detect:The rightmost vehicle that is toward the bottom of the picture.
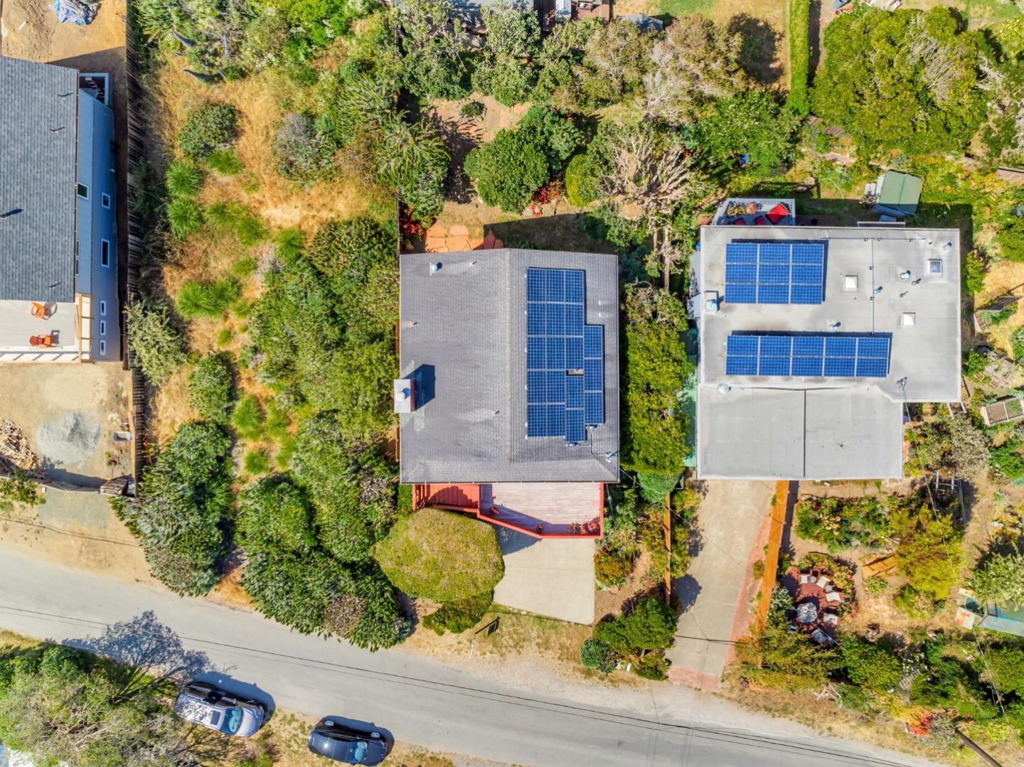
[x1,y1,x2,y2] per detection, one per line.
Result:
[305,720,389,767]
